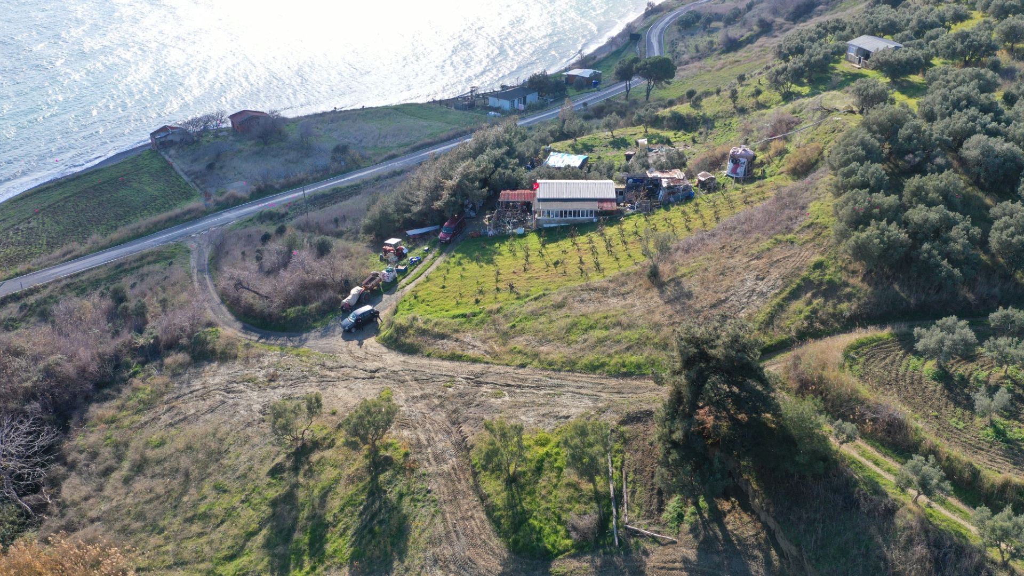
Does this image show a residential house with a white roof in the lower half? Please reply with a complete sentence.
No, I see no residential house with a white roof in the lower half.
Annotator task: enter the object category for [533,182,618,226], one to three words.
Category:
house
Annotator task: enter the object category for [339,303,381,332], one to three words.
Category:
car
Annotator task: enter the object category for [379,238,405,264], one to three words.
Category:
work vehicle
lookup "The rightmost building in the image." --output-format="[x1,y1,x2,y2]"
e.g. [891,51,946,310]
[844,39,902,59]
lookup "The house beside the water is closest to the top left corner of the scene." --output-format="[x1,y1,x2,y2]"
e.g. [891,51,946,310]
[146,125,187,150]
